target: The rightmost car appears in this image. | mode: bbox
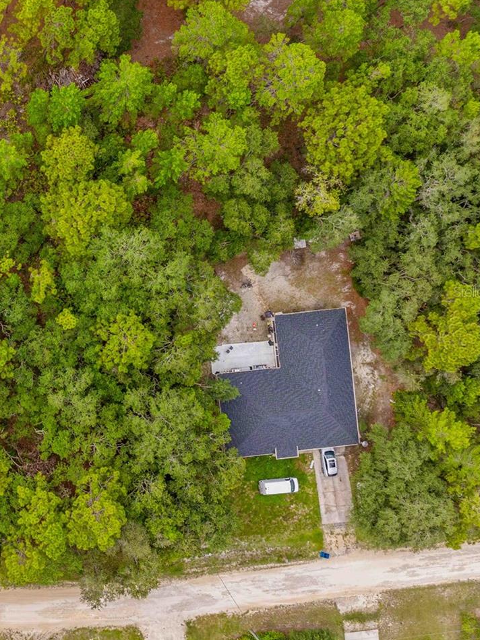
[320,447,339,478]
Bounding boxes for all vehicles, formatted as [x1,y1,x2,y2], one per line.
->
[320,447,339,478]
[255,476,298,496]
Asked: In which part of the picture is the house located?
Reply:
center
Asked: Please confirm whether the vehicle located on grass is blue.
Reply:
No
